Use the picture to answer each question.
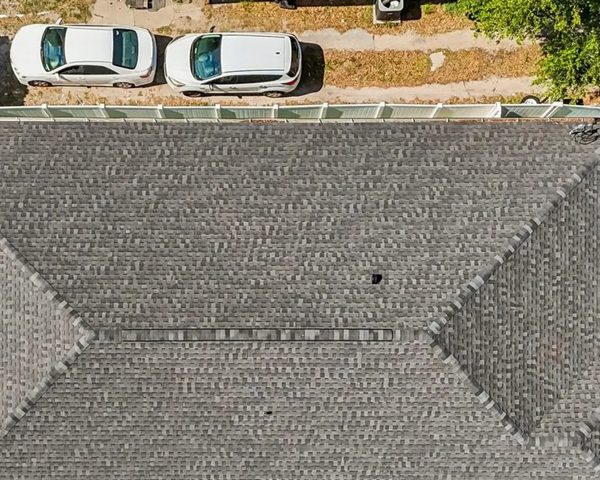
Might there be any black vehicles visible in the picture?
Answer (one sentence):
No, I can see no black vehicle in this picture.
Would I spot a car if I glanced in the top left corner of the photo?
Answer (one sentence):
Yes, a car shows up in the top left corner of the photo.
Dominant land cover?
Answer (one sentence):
Most of the picture is covered by buildings.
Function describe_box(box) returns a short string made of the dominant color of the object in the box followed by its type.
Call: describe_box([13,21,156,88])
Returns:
white car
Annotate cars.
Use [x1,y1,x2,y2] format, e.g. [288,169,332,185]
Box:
[13,21,156,88]
[166,27,303,96]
